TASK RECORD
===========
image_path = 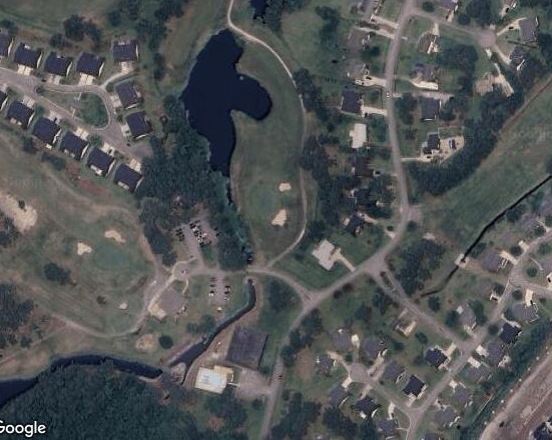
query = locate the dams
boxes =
[146,362,189,386]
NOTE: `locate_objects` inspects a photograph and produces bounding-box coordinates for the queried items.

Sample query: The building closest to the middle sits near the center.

[313,240,336,270]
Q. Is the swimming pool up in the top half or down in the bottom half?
bottom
